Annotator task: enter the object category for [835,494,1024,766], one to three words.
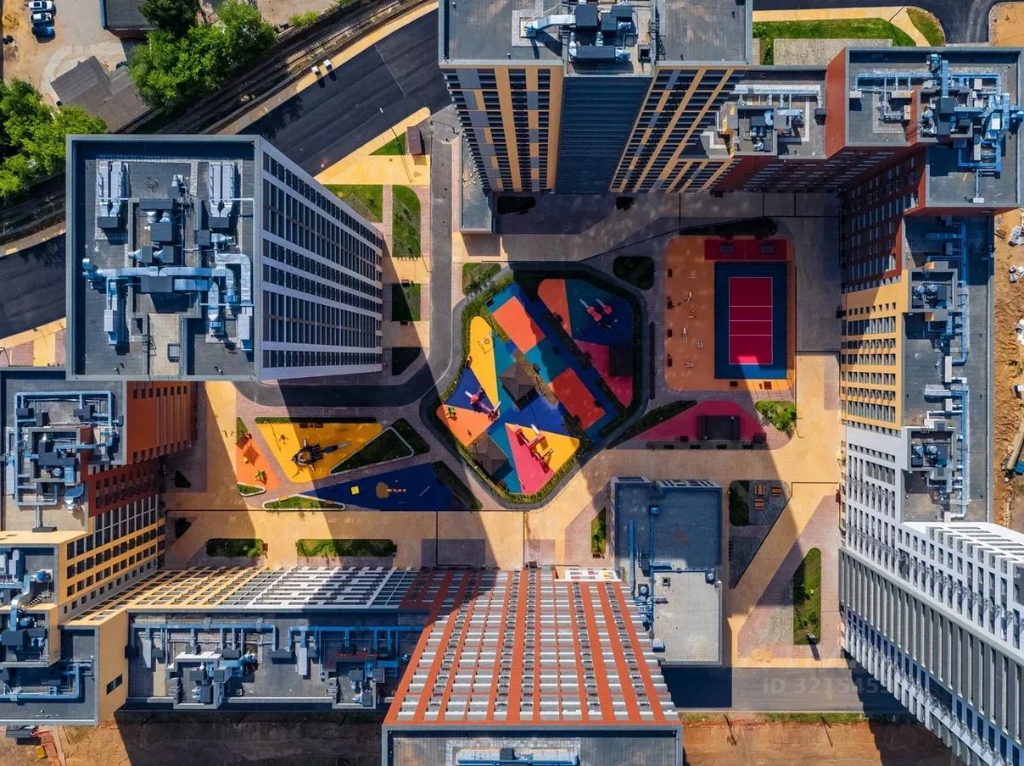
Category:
building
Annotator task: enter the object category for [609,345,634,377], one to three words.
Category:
gazebo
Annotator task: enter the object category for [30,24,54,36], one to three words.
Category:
vehicle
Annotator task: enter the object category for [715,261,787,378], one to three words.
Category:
sports court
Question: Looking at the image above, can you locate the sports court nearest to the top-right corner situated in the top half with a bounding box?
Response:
[705,239,786,259]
